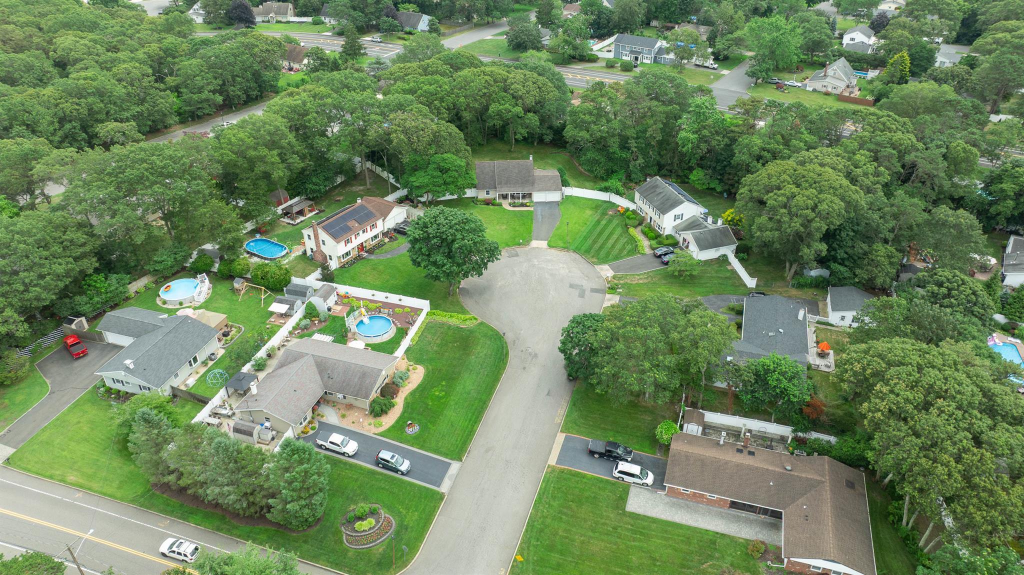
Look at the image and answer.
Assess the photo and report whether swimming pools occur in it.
Yes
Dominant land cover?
trees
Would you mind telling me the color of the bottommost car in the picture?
white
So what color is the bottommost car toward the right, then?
white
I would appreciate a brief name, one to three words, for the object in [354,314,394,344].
swimming pool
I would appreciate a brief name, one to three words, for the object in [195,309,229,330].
tent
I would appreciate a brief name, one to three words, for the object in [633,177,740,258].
house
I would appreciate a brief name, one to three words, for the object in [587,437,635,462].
truck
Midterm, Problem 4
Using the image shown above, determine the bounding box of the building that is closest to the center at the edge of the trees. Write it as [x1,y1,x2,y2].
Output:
[475,152,563,201]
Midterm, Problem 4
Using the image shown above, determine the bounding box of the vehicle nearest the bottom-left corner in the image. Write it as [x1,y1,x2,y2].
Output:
[155,536,204,564]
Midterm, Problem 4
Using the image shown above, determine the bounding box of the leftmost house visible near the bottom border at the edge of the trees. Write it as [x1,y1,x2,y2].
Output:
[666,434,878,575]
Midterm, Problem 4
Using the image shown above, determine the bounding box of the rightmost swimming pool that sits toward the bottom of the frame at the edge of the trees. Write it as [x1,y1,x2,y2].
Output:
[989,342,1024,371]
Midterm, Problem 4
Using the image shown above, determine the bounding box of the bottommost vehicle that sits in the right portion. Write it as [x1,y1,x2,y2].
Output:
[610,459,656,488]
